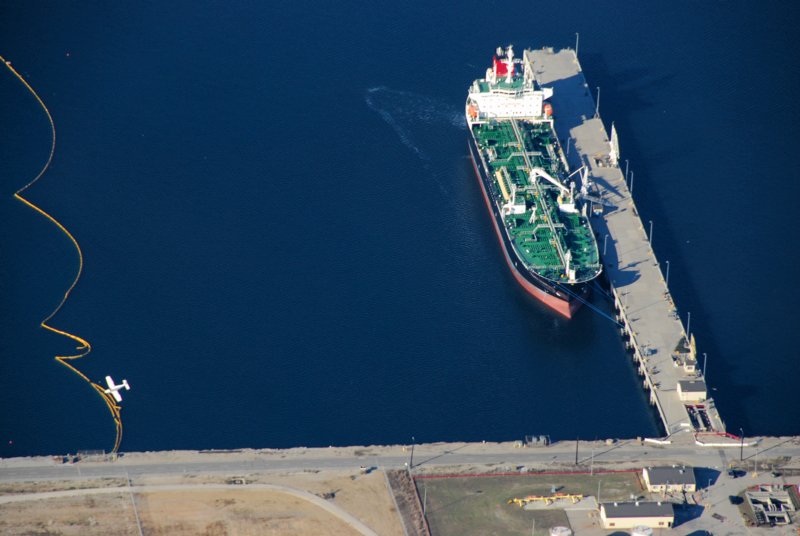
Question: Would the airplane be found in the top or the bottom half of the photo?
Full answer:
It is in the bottom half that the airplane appears.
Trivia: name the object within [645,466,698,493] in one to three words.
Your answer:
building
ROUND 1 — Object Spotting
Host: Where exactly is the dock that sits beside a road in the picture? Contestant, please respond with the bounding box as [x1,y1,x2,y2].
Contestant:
[523,46,727,441]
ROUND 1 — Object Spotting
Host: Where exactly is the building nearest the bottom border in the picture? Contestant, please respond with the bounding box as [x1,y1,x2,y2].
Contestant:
[599,500,675,531]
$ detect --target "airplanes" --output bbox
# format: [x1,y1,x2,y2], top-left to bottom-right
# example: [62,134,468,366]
[105,376,130,398]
